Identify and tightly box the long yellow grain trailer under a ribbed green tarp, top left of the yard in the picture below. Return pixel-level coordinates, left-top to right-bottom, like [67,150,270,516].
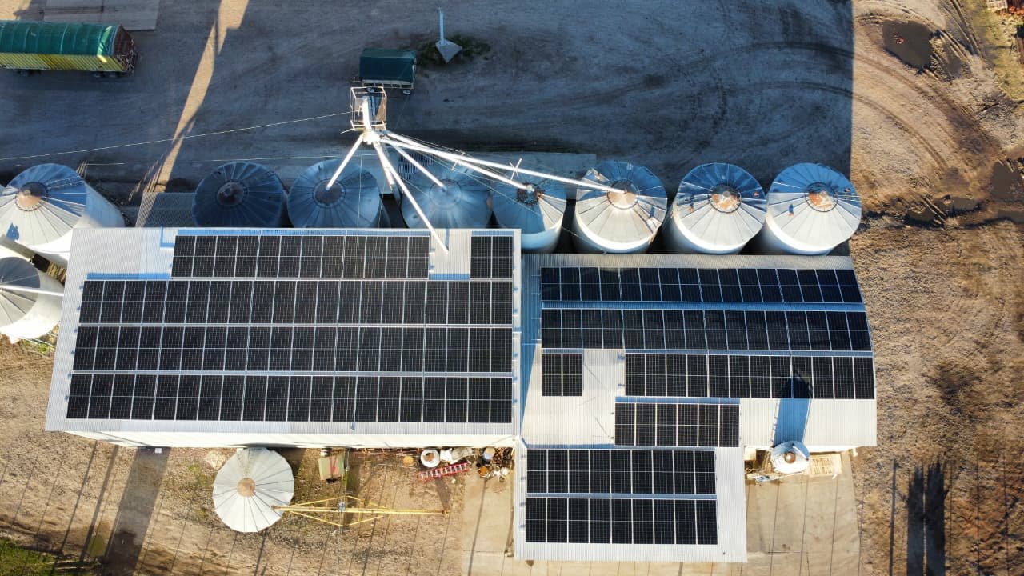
[0,19,140,80]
